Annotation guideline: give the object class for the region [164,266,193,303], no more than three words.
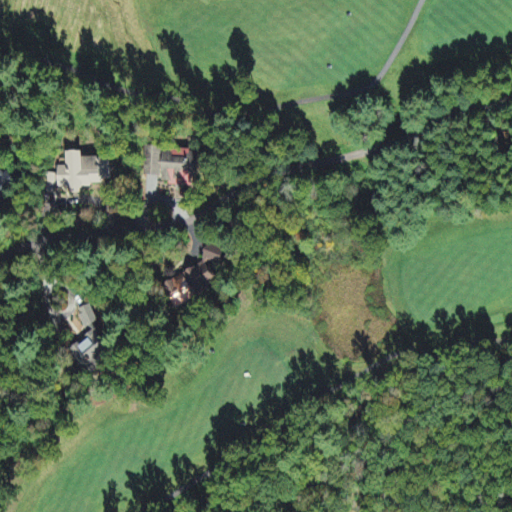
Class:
house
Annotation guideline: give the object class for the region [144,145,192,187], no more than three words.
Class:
house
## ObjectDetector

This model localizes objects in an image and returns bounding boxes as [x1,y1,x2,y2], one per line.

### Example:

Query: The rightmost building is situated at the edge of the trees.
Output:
[202,245,221,276]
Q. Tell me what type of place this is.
golf course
